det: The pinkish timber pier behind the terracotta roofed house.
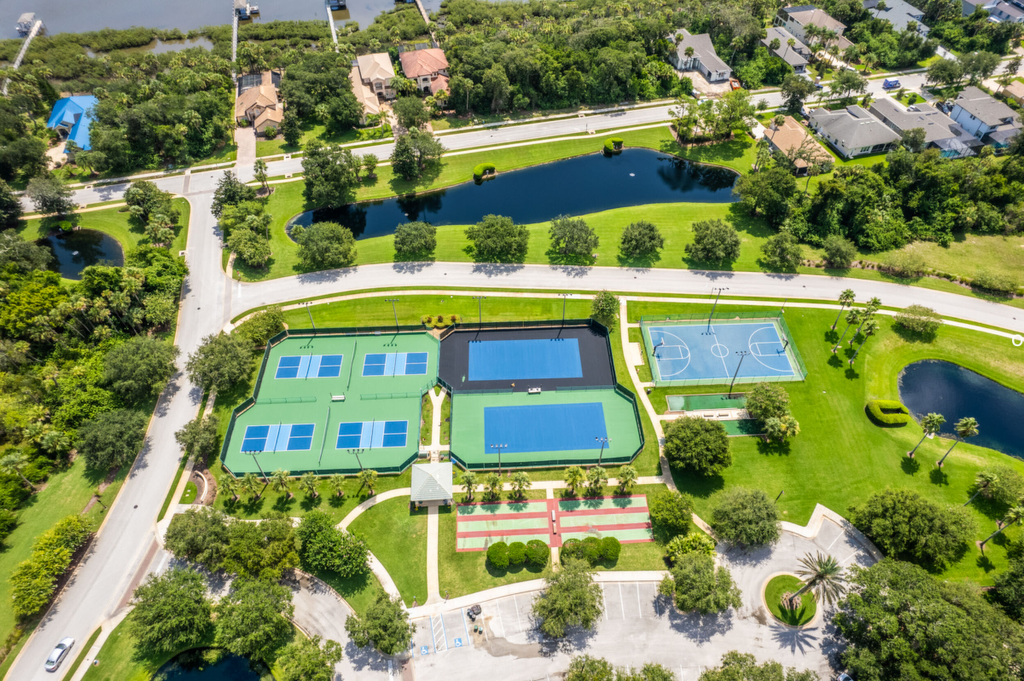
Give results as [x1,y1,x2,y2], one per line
[415,0,441,48]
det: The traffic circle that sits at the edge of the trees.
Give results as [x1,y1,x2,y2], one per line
[761,572,821,629]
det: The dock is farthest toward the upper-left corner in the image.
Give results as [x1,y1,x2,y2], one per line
[2,21,44,93]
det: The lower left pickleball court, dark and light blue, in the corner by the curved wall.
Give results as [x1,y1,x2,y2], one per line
[240,420,316,453]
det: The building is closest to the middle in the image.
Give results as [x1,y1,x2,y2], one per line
[411,462,453,508]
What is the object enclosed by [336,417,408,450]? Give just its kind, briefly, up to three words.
sports court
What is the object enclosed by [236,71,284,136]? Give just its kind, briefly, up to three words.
house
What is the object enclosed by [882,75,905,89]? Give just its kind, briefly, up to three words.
vehicle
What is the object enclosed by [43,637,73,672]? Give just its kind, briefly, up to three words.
car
